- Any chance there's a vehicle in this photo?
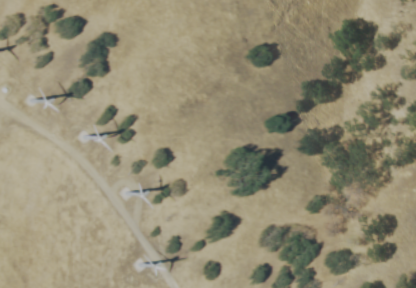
No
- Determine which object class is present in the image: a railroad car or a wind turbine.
wind turbine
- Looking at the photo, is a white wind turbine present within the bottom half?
Yes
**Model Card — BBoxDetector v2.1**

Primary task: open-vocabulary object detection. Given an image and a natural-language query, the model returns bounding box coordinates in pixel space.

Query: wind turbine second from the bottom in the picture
[120,183,149,207]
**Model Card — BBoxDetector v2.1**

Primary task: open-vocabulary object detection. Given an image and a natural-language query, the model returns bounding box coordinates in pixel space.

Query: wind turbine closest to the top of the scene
[25,86,52,108]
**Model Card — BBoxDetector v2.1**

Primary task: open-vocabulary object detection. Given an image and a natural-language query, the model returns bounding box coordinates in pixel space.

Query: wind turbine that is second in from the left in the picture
[78,124,107,148]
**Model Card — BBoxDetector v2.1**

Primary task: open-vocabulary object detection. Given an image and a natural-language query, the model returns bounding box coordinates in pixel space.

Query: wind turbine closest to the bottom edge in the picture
[134,255,162,276]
